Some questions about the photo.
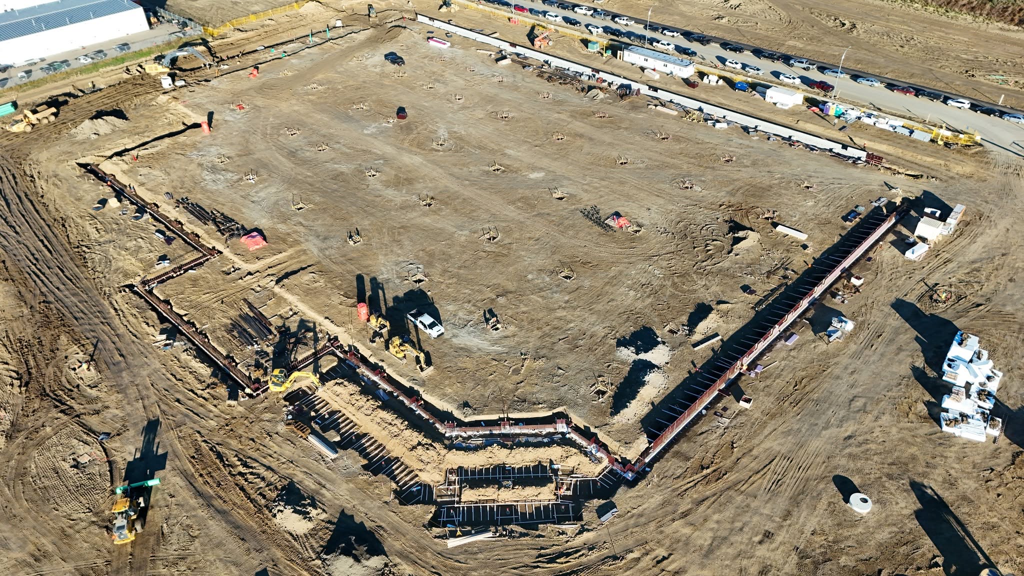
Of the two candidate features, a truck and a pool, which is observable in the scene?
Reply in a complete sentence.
This aerial view contains a truck.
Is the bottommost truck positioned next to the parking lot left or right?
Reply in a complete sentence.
The bottommost truck positioned next to the parking lot is on the left side of the image.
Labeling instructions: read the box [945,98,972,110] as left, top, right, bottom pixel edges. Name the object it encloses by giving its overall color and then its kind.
white vehicle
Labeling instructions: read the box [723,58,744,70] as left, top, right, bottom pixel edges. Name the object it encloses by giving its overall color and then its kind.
white vehicle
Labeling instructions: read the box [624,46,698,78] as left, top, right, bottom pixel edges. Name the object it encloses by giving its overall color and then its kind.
white trailer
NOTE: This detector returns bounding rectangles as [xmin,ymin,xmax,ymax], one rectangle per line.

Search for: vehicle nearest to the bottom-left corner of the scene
[107,487,149,546]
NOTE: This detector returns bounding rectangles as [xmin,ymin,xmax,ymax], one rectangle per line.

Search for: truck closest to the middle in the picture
[405,306,445,339]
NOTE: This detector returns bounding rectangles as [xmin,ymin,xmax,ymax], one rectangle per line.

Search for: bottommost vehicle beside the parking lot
[0,100,55,135]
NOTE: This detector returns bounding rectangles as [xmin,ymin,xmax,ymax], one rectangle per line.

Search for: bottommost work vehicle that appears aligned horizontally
[267,369,328,397]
